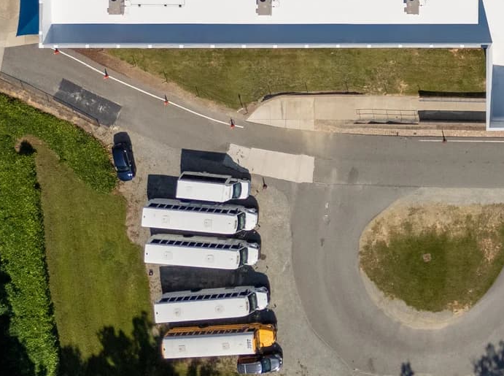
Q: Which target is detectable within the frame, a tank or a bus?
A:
bus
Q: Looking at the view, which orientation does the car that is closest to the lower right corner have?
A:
from left to right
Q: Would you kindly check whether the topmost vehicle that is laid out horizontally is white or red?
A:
white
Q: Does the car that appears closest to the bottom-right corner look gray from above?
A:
Yes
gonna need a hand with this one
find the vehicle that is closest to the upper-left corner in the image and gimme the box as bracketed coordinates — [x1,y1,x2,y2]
[113,137,137,182]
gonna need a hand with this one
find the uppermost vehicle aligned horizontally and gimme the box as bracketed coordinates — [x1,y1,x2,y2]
[177,174,255,206]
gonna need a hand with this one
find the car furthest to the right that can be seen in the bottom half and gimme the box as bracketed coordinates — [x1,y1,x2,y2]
[237,352,283,374]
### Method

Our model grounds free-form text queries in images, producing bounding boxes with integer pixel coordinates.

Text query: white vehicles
[177,174,255,206]
[154,287,274,321]
[145,235,263,271]
[162,322,281,357]
[143,201,262,236]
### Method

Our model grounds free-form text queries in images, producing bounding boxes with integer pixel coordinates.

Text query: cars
[113,137,137,182]
[237,352,283,374]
